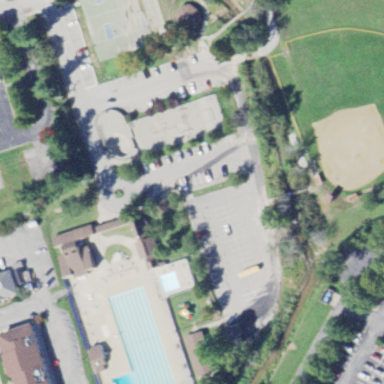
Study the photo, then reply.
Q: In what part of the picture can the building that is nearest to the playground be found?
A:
bottom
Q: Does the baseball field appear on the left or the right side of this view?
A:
right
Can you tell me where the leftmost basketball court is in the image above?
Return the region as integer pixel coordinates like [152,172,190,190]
[81,0,137,64]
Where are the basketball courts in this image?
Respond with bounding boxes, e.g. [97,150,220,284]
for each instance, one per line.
[81,0,137,64]
[120,0,165,50]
